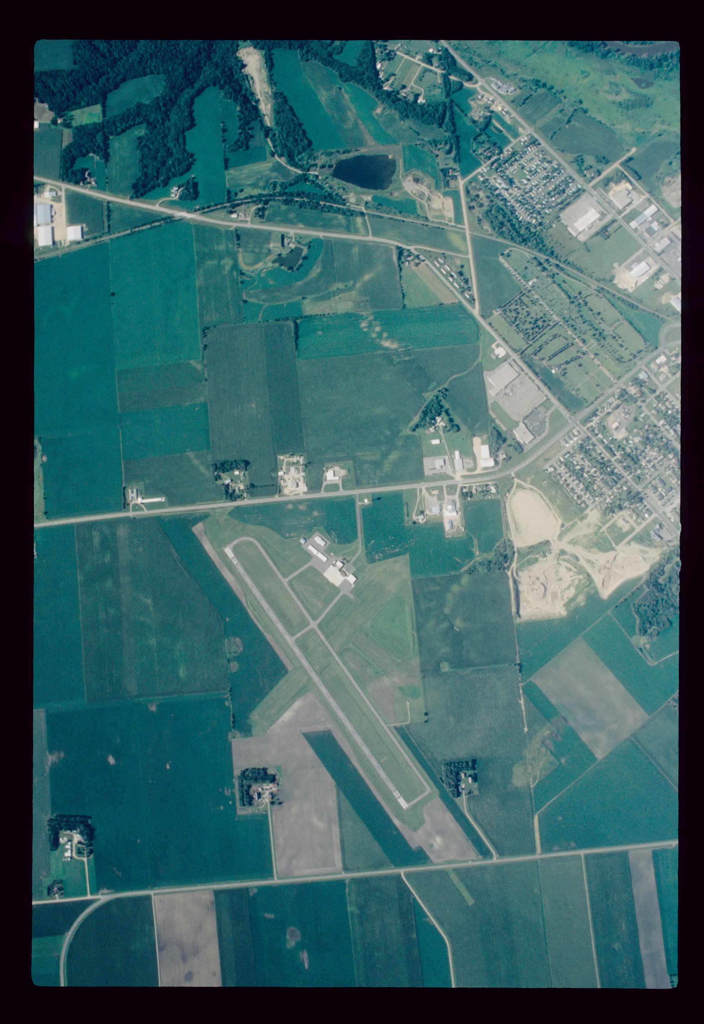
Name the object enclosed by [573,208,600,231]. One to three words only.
building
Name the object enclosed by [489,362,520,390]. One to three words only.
building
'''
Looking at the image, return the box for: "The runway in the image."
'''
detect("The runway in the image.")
[223,546,408,810]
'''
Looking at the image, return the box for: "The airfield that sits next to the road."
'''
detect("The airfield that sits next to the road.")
[192,508,439,832]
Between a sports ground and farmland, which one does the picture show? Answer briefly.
farmland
